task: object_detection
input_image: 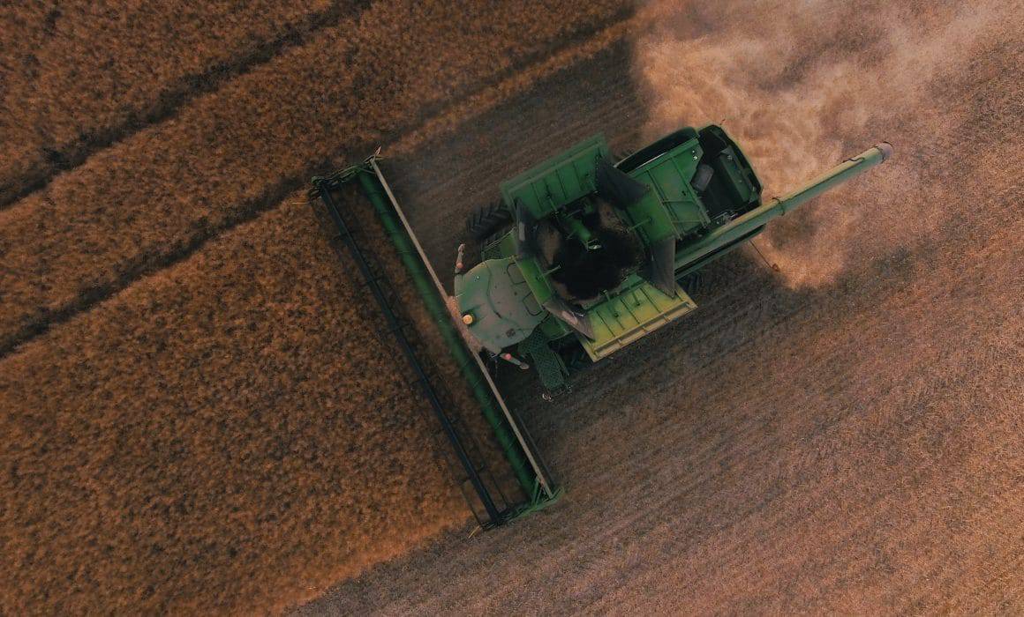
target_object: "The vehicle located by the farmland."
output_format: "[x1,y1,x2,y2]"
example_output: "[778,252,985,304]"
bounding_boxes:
[295,122,893,536]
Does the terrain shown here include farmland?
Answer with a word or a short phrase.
Yes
